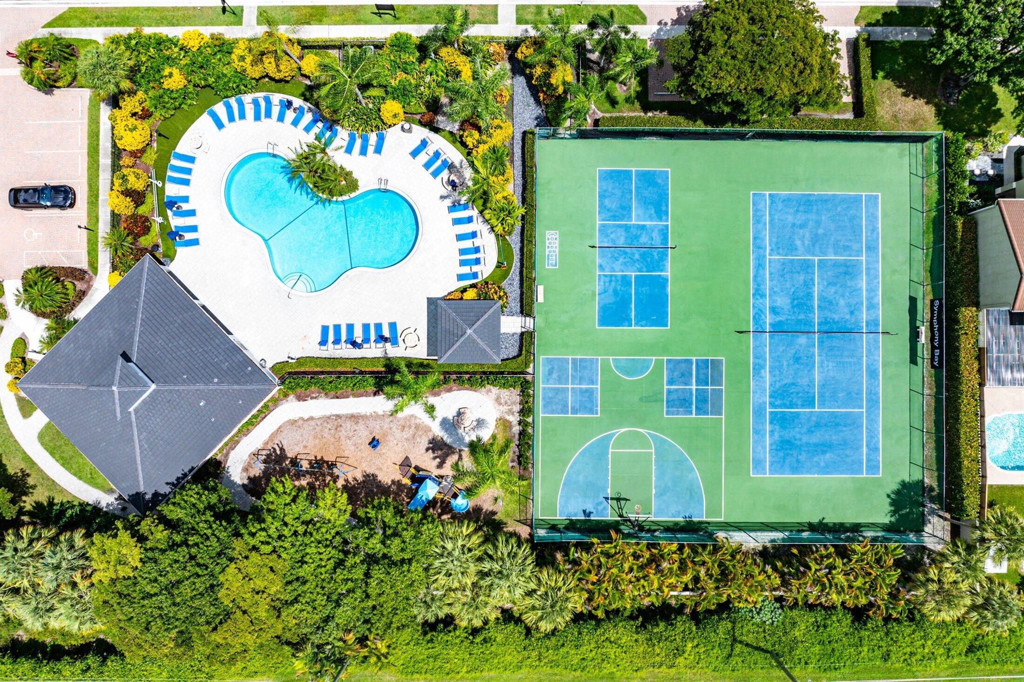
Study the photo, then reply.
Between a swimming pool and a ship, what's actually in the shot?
swimming pool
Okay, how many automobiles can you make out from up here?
1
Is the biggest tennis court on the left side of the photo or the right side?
right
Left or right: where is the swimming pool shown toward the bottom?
right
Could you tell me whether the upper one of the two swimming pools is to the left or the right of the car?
on the right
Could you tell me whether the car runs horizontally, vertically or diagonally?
horizontally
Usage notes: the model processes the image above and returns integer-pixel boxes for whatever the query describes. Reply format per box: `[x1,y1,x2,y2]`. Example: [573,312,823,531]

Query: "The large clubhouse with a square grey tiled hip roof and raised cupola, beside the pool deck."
[16,253,283,514]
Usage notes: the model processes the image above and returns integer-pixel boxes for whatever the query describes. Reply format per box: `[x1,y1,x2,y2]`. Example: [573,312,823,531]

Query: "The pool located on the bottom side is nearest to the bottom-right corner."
[988,410,1024,473]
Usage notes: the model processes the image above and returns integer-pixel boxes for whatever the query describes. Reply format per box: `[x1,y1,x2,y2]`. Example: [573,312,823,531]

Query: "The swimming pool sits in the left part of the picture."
[220,138,423,298]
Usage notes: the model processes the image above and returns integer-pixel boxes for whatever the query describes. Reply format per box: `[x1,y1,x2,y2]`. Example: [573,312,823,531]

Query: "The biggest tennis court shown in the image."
[751,192,882,476]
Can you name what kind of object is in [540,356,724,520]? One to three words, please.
basketball court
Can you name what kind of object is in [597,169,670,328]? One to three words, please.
sports court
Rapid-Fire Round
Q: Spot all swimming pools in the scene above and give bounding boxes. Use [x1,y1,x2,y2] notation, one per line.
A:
[988,410,1024,473]
[220,138,423,298]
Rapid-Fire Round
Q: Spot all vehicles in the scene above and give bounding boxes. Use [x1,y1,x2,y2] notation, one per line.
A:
[10,183,72,211]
